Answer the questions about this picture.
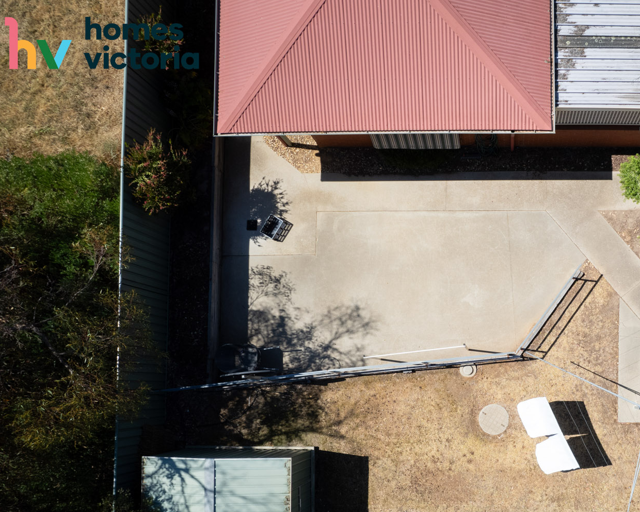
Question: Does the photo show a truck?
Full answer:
No, there's no truck here.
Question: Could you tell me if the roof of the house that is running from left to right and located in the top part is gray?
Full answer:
No, from above the roof of the house that is running from left to right and located in the top part looks pink.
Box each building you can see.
[139,447,317,512]
[214,0,565,151]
